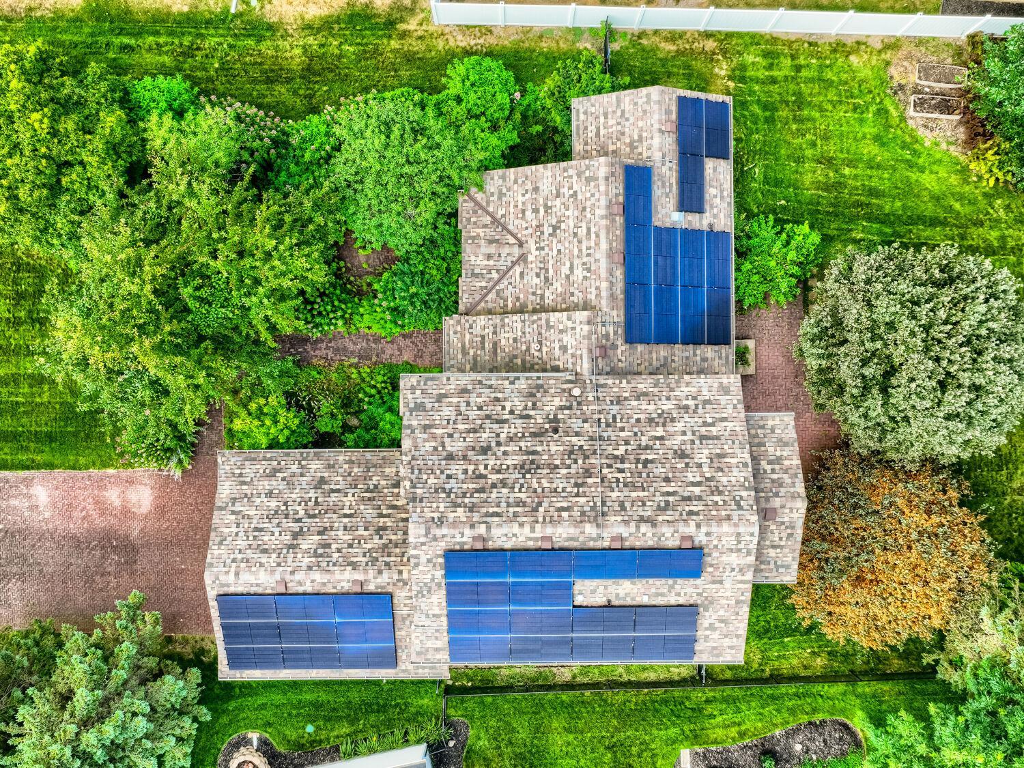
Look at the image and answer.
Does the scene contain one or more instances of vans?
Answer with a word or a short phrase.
No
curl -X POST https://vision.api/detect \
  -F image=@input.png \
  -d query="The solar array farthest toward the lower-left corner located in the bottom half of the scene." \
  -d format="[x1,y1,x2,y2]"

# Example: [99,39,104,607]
[216,593,397,671]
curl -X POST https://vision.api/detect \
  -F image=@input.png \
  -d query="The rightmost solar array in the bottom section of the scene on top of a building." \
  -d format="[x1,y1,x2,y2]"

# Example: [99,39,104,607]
[442,550,705,665]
